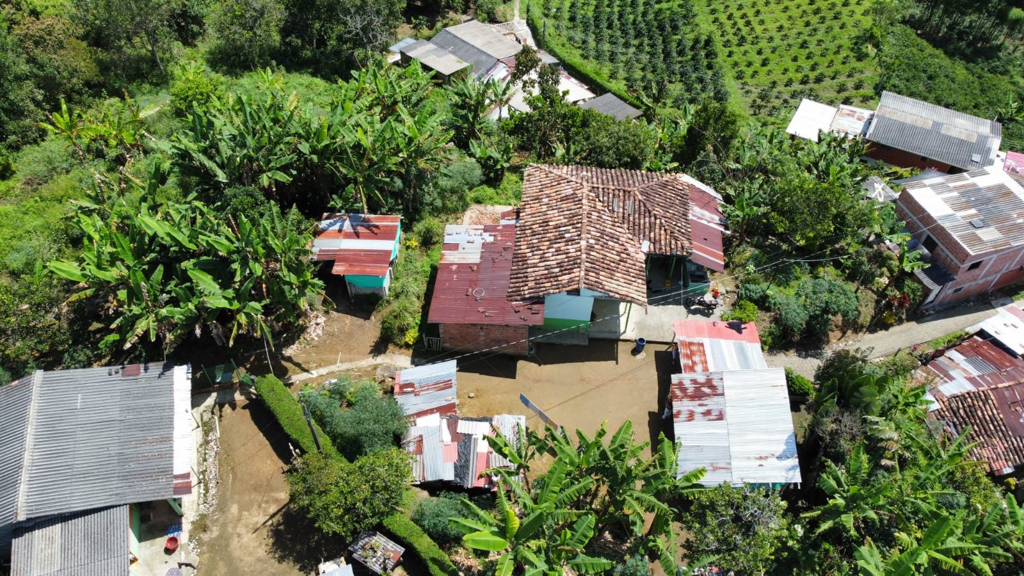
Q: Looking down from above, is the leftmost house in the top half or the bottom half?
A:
bottom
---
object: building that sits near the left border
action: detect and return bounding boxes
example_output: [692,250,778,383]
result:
[0,363,200,576]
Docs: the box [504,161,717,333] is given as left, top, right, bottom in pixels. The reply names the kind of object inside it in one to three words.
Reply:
house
